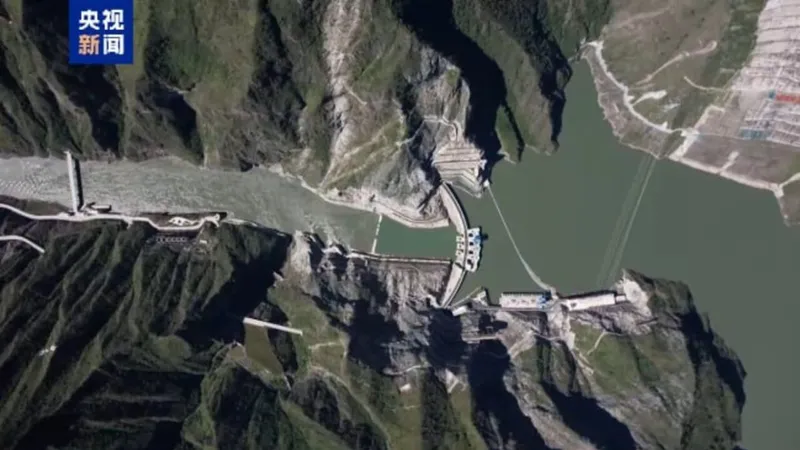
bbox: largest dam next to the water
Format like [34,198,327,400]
[437,175,482,311]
